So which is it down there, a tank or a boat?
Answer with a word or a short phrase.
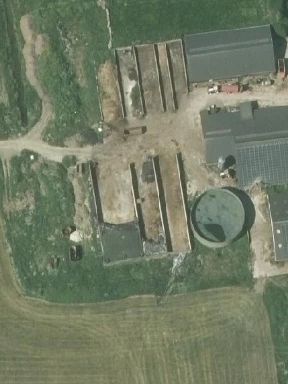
tank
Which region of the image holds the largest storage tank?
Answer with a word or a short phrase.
right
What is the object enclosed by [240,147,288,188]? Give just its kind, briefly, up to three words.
solar array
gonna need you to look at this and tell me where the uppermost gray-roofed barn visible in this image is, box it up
[183,26,277,86]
